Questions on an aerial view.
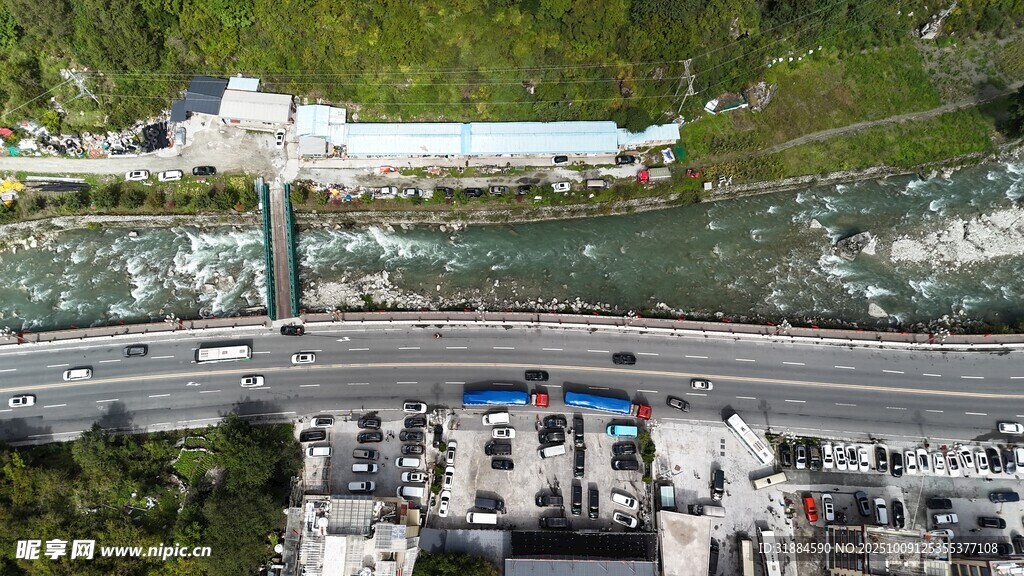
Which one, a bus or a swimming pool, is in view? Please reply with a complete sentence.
The one in the frame is a bus.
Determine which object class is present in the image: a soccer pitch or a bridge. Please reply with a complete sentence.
It is a bridge that can be seen here.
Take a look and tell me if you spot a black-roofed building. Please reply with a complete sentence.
Yes, the photo shows a black-roofed building.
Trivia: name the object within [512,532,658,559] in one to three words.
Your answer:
building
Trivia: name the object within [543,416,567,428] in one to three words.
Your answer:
vehicle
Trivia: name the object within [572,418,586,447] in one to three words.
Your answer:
vehicle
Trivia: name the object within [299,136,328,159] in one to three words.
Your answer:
shed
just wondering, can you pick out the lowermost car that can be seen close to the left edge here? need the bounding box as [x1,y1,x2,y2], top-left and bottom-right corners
[9,394,36,406]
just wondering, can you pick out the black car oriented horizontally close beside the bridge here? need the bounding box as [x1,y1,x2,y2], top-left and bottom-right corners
[280,324,304,336]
